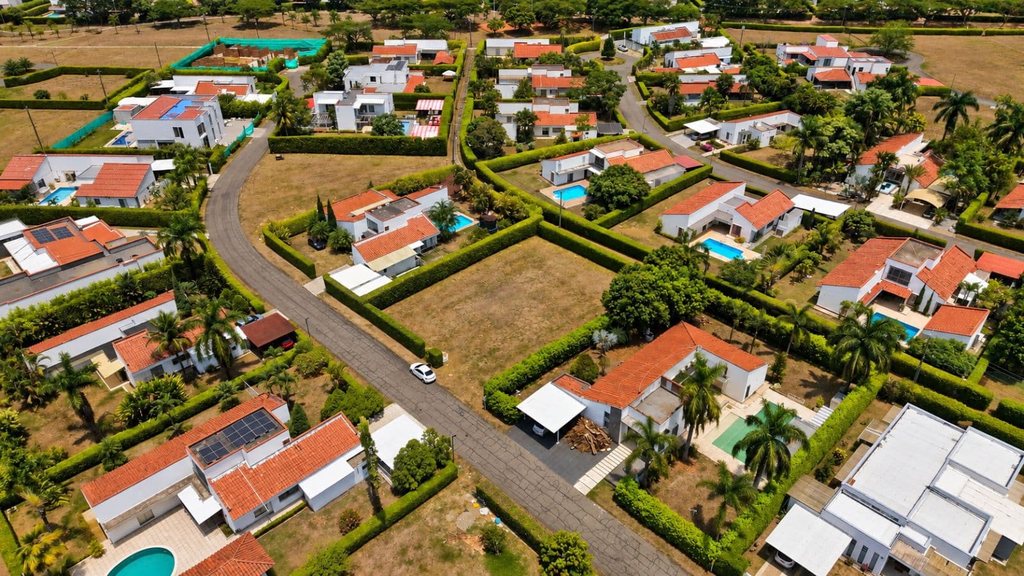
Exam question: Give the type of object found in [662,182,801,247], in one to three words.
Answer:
house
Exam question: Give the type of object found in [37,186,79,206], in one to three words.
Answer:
swimming pool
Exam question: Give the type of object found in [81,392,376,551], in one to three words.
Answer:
house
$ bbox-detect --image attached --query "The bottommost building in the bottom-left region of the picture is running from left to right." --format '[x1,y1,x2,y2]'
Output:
[177,530,276,576]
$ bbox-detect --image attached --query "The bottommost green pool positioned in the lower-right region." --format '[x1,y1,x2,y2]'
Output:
[707,397,803,466]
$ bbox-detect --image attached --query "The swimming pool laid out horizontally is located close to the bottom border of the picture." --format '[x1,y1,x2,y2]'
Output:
[107,547,183,576]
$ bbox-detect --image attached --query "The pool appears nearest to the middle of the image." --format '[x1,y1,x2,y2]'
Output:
[431,214,476,233]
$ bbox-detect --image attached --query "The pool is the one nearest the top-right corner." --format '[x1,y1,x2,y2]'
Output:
[875,183,897,197]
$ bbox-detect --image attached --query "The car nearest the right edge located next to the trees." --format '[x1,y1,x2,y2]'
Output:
[920,206,937,219]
